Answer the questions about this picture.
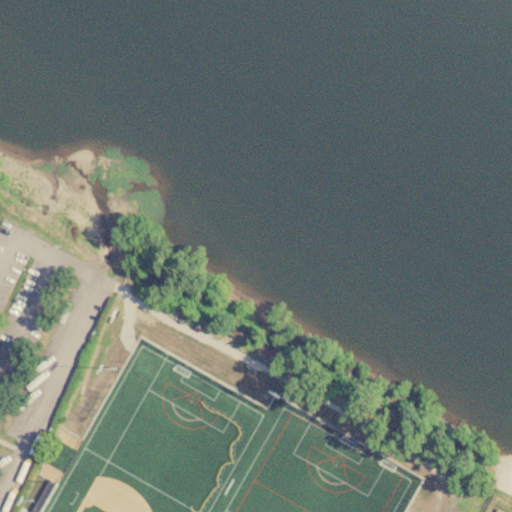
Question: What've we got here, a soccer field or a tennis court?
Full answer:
The image shows a soccer field.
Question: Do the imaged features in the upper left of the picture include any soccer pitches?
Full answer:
No, I can find no soccer pitch in the upper left of the picture.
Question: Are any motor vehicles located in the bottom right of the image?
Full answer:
No, there's no motor vehicle to be seen in the bottom right of the image.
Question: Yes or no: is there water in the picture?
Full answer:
Yes, water can be seen from above here.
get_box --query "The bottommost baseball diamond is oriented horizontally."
[77,476,153,512]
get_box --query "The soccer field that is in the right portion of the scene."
[221,402,422,512]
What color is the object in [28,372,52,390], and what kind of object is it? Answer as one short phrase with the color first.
white vehicle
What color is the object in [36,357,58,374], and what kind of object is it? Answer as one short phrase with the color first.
white vehicle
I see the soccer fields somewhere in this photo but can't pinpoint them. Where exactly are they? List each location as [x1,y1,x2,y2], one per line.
[221,402,422,512]
[44,342,276,512]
